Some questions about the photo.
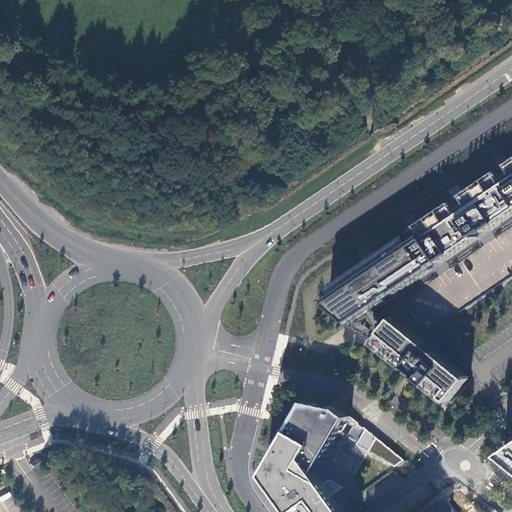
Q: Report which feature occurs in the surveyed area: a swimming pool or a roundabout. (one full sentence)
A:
Looking from above, you can make out a roundabout.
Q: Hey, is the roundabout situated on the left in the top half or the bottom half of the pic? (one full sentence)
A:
The roundabout situated on the left is in the bottom half of the image.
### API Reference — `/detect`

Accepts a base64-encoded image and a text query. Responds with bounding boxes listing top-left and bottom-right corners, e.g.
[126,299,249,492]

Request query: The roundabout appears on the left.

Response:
[30,254,202,428]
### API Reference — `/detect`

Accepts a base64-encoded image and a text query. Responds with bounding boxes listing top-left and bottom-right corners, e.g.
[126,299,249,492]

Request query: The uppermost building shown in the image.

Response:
[318,158,512,321]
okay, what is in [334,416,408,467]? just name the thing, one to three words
building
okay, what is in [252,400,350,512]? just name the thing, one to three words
building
